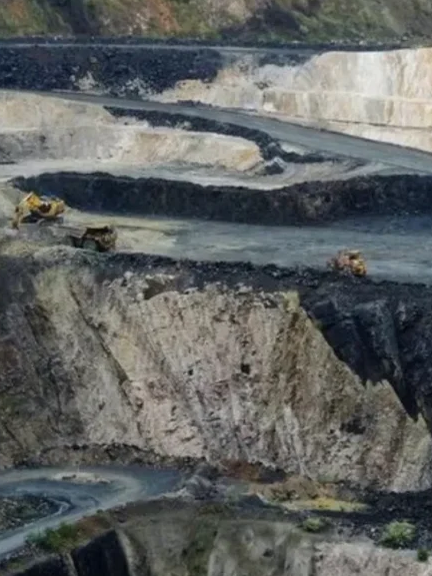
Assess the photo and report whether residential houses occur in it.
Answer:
No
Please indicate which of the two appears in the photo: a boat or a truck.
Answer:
truck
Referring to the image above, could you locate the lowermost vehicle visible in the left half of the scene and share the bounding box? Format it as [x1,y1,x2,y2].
[68,223,116,255]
